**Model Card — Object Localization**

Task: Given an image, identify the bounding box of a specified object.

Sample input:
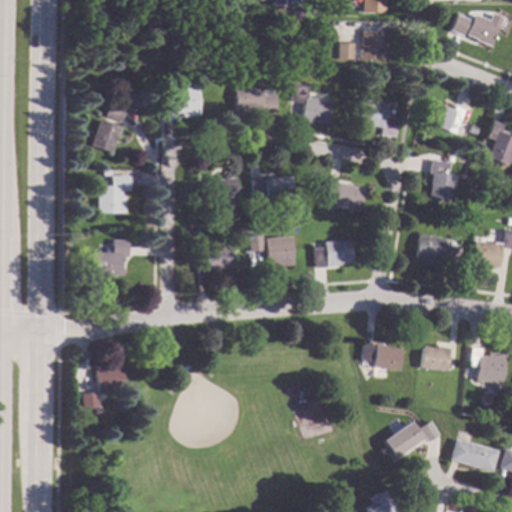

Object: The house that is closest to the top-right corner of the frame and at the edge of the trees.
[452,12,506,44]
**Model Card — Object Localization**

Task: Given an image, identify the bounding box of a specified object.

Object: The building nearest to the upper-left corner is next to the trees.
[93,108,128,154]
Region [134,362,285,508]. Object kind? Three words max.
baseball field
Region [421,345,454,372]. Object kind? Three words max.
house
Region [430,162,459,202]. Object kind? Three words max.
house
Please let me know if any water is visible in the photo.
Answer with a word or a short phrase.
No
